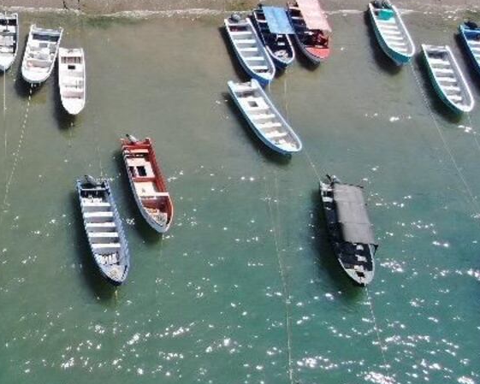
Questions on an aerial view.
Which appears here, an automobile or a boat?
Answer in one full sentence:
This aerial view contains a boat.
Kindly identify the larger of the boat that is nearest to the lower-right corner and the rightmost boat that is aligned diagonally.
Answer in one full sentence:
The larger object is the boat that is nearest to the lower-right corner, with the rightmost boat that is aligned diagonally being the smaller of the pair.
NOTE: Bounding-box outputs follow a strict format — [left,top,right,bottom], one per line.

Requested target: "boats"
[58,48,87,116]
[366,0,415,64]
[287,0,332,63]
[78,171,128,285]
[418,44,474,116]
[0,14,19,72]
[458,20,480,82]
[228,80,299,154]
[253,6,296,65]
[122,136,174,232]
[22,26,61,85]
[311,173,375,286]
[224,13,277,81]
